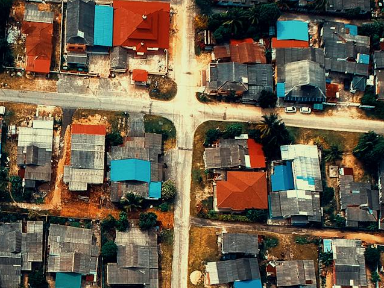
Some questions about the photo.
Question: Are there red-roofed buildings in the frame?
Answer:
Yes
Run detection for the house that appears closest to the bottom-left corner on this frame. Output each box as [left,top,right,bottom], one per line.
[0,218,43,288]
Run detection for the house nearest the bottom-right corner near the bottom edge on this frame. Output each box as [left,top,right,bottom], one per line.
[322,239,366,288]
